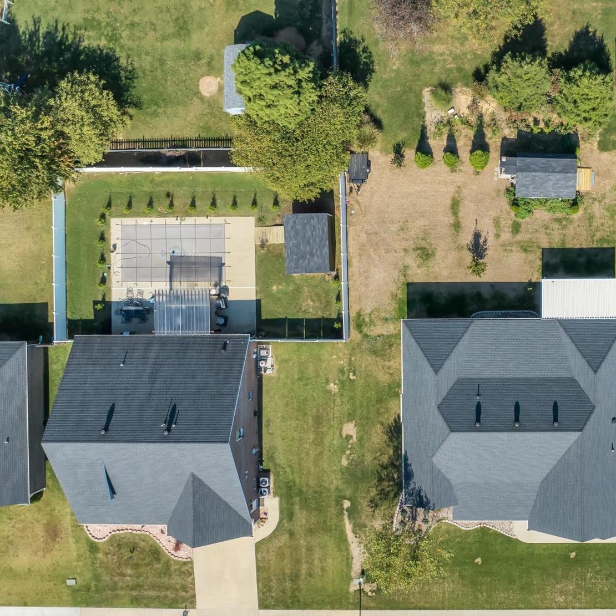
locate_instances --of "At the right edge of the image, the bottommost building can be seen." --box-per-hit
[401,317,616,543]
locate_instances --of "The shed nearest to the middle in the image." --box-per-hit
[283,212,336,274]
